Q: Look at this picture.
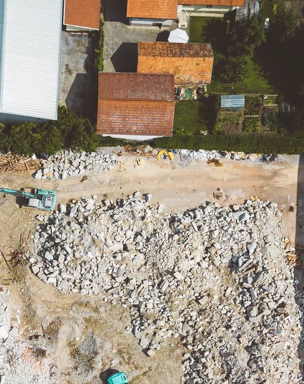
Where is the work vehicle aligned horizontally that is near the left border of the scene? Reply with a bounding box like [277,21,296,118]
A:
[0,185,62,211]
